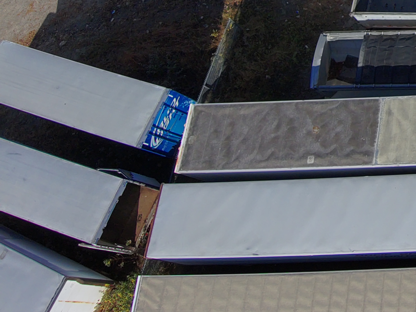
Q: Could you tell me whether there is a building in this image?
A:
No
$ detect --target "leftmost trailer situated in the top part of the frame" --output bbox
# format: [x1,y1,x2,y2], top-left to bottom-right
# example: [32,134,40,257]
[0,39,190,167]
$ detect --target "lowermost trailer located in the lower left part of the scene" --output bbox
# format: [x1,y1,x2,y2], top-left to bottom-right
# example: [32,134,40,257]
[0,227,122,312]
